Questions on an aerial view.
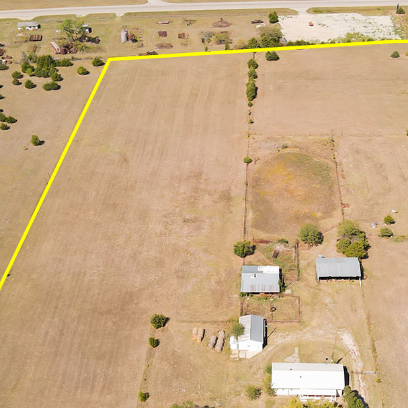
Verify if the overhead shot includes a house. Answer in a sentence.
Yes, a house is visible in the scene.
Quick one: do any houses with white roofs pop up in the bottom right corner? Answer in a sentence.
Yes, a house with a white roof is visible in the bottom right corner.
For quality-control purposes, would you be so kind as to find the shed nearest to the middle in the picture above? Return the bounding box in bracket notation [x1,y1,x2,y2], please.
[240,266,280,298]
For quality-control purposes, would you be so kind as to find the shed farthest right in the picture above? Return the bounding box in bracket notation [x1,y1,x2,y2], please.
[317,258,360,287]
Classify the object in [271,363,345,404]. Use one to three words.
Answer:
house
